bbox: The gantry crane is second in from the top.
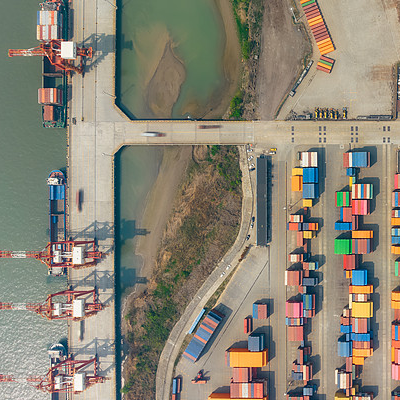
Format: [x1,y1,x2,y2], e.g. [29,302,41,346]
[0,232,96,270]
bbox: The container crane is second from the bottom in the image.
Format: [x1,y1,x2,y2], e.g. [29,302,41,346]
[0,280,96,322]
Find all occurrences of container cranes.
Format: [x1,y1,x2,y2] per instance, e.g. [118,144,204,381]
[0,232,96,270]
[0,348,96,395]
[11,39,90,79]
[0,280,96,322]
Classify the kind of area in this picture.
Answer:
port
